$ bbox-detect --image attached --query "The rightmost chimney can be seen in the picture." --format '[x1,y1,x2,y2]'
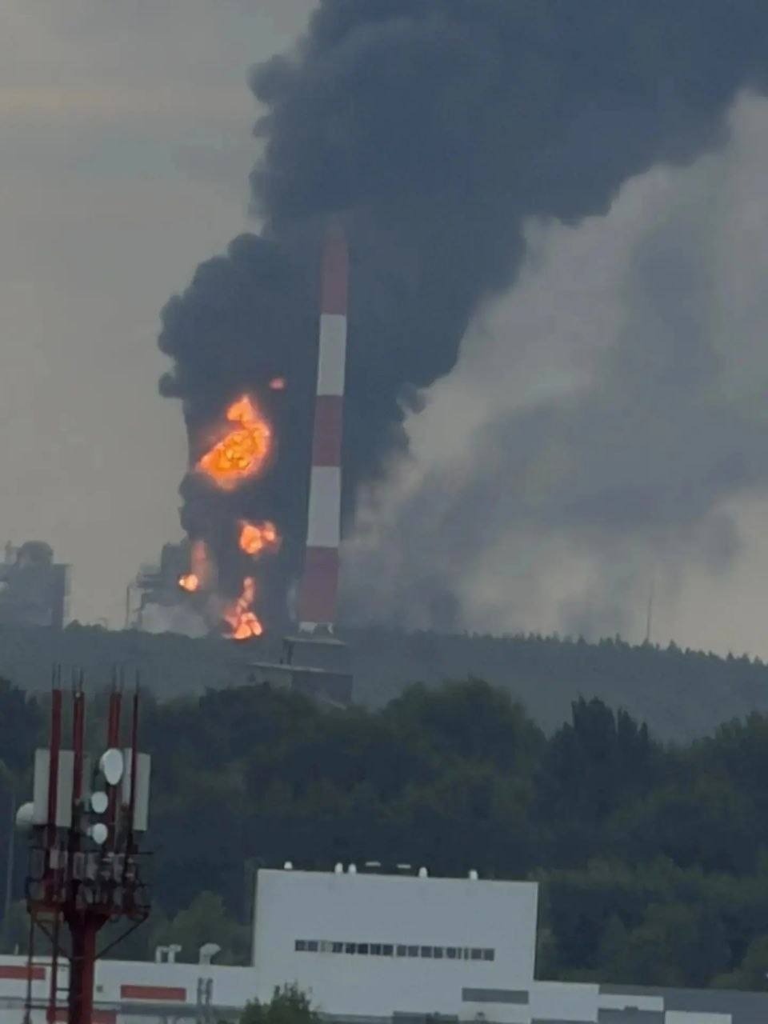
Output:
[294,209,349,672]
